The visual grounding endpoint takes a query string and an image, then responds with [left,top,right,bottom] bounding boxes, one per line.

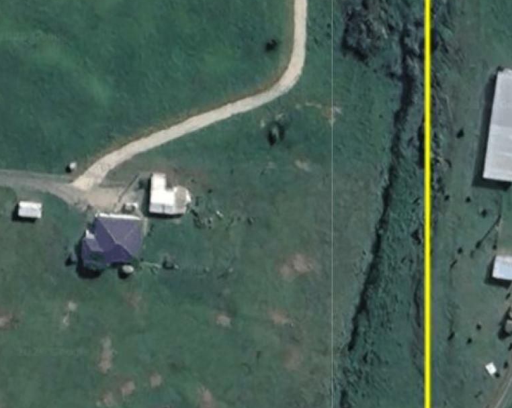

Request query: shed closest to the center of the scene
[149,173,186,213]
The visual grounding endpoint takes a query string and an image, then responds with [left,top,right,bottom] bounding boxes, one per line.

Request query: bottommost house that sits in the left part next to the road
[82,213,141,263]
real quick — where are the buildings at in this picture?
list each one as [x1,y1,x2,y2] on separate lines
[17,201,41,218]
[492,256,512,280]
[149,173,186,213]
[82,213,141,263]
[483,71,512,181]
